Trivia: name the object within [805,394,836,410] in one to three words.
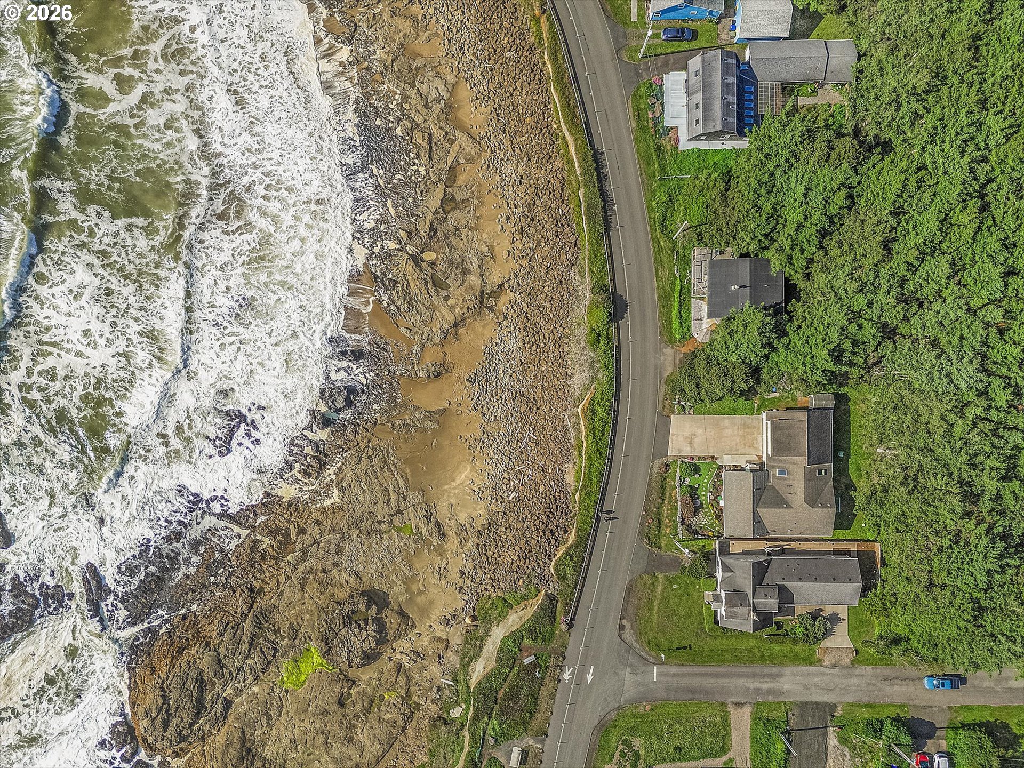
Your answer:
greenhouse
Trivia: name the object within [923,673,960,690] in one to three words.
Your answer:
vehicle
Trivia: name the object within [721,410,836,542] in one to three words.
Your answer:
house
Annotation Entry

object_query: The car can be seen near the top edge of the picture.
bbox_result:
[660,26,692,44]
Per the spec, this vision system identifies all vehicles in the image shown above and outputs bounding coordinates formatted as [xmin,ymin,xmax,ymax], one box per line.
[660,26,692,44]
[932,750,950,768]
[923,673,960,690]
[912,750,930,768]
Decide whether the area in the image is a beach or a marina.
beach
